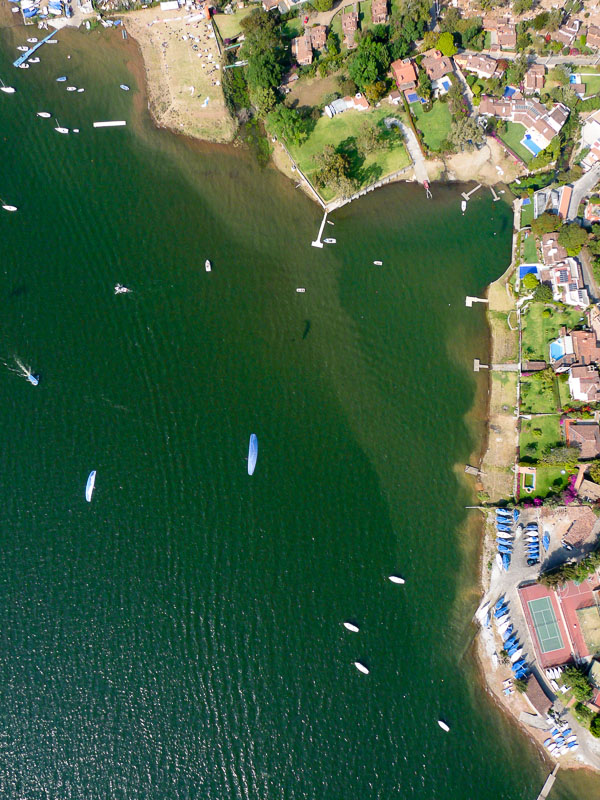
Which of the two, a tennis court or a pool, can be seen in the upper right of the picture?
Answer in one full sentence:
Visible in the upper right of the picture is a pool.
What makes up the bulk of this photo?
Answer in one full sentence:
The bulk of the photo consists of water.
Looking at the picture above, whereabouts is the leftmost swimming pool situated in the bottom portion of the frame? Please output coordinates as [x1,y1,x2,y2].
[519,467,536,493]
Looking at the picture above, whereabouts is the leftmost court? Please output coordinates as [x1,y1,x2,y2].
[521,583,574,668]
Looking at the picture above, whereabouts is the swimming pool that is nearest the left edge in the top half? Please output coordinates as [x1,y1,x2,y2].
[405,89,427,104]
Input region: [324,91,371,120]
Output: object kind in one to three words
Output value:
house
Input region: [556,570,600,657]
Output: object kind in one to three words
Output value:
basketball court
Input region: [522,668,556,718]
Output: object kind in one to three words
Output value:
shed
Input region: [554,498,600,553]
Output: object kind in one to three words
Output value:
building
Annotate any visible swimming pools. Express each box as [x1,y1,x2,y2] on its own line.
[569,73,581,84]
[405,89,427,104]
[441,77,452,92]
[549,337,566,362]
[516,264,541,284]
[519,467,536,493]
[520,127,550,157]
